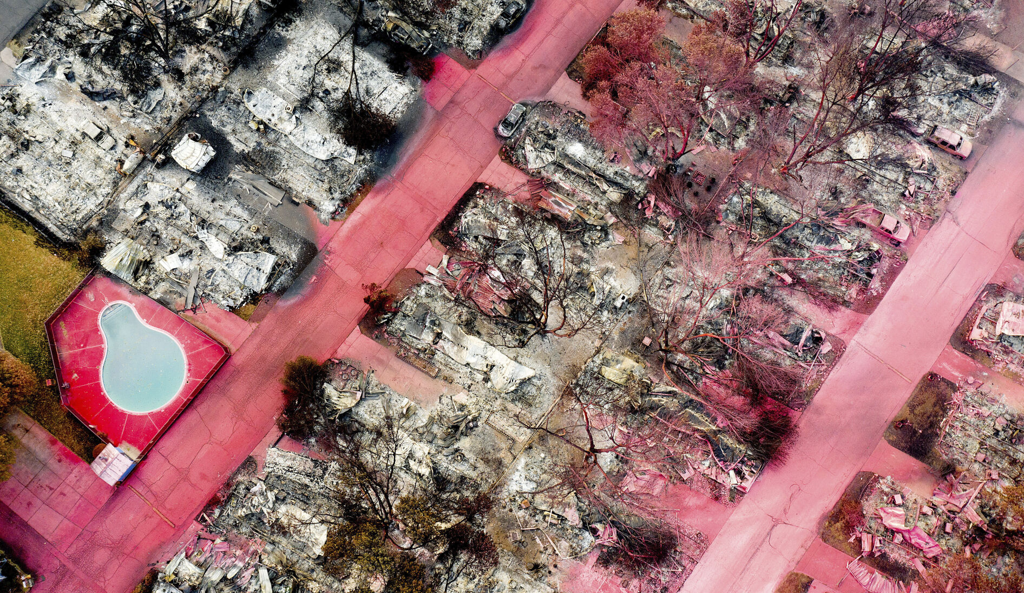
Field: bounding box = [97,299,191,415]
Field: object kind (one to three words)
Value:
swimming pool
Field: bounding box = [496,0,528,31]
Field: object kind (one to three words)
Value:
car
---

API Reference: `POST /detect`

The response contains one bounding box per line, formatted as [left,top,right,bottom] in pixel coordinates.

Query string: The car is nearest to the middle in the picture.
[497,100,527,140]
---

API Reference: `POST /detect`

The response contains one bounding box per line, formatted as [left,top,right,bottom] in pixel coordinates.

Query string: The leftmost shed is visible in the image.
[91,441,145,486]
